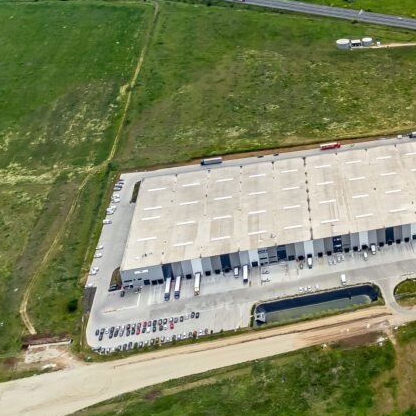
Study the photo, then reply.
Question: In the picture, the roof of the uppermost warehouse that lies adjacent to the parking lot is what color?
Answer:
white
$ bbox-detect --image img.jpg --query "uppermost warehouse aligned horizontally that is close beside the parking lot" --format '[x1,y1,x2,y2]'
[120,143,416,287]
